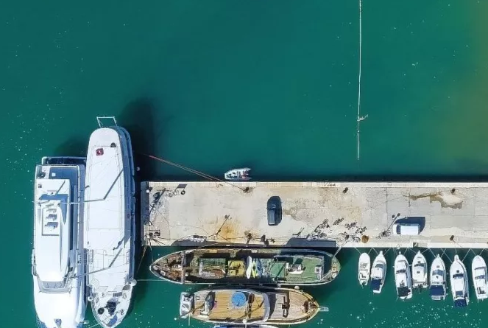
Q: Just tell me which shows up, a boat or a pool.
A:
boat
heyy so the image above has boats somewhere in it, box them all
[471,248,488,299]
[445,249,470,308]
[180,238,343,327]
[148,237,343,285]
[225,167,255,180]
[411,248,428,291]
[358,248,370,289]
[393,248,413,301]
[30,152,88,328]
[181,292,192,321]
[429,249,448,303]
[369,248,386,296]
